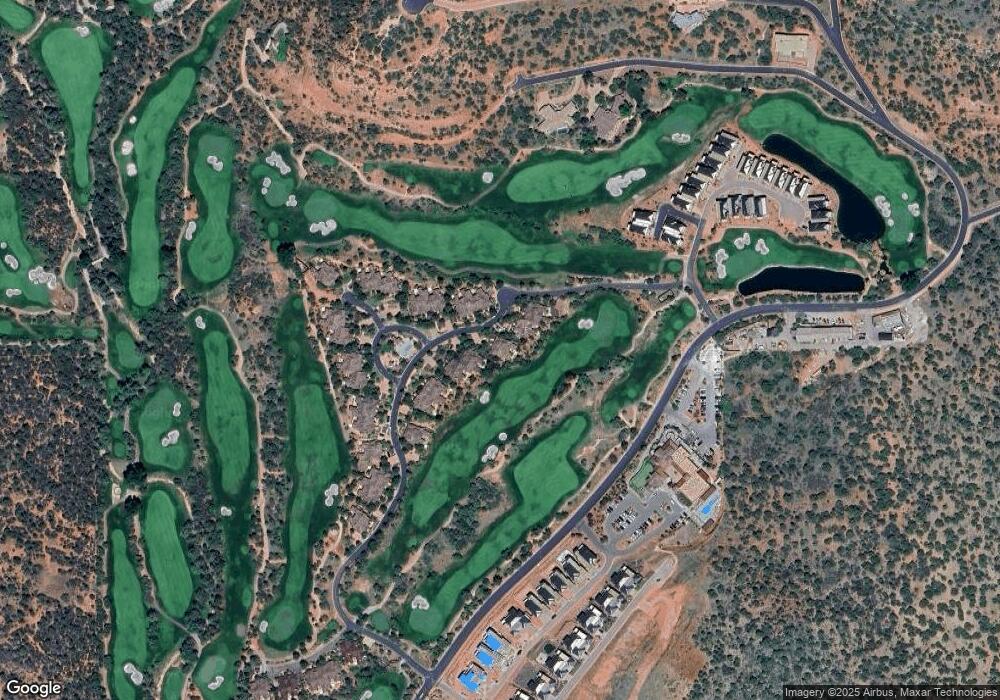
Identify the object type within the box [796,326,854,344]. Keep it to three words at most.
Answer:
shed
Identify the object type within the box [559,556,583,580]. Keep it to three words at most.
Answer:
house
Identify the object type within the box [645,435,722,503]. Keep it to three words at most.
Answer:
building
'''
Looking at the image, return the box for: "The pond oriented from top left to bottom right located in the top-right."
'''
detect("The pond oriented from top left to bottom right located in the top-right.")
[762,134,886,243]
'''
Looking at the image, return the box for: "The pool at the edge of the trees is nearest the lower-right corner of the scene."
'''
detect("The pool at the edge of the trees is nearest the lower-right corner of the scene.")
[696,490,722,523]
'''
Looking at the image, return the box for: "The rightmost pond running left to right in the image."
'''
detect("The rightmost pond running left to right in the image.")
[740,267,864,295]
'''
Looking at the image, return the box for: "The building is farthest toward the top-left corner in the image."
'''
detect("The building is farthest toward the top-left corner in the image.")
[310,259,336,289]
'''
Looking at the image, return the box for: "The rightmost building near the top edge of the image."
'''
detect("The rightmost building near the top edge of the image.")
[774,32,809,64]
